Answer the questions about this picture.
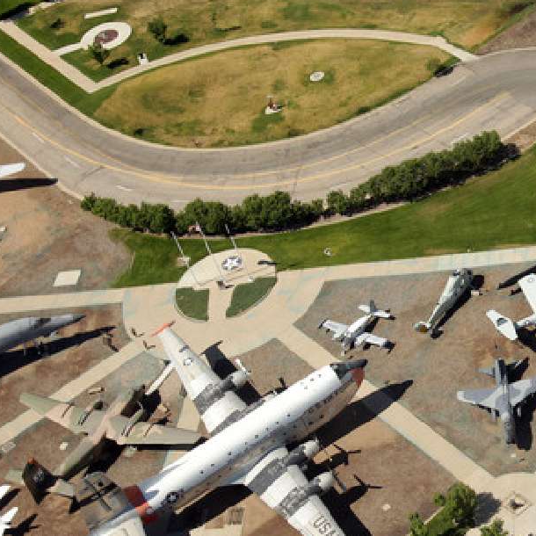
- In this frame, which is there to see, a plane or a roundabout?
plane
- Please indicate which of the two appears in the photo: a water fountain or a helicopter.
helicopter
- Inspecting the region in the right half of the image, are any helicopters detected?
Yes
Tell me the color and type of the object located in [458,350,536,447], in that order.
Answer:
gray airplane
